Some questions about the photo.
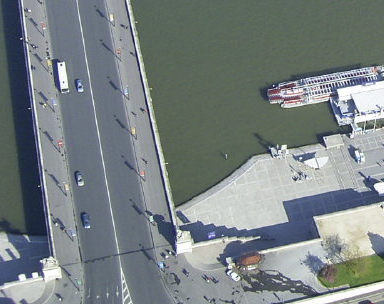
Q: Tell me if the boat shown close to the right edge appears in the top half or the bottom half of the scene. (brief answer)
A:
top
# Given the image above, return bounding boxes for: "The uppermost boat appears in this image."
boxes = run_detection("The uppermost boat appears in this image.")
[266,61,384,106]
